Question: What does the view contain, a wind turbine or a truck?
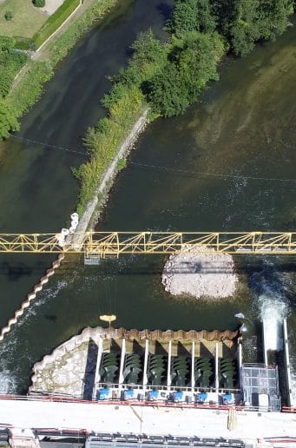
wind turbine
